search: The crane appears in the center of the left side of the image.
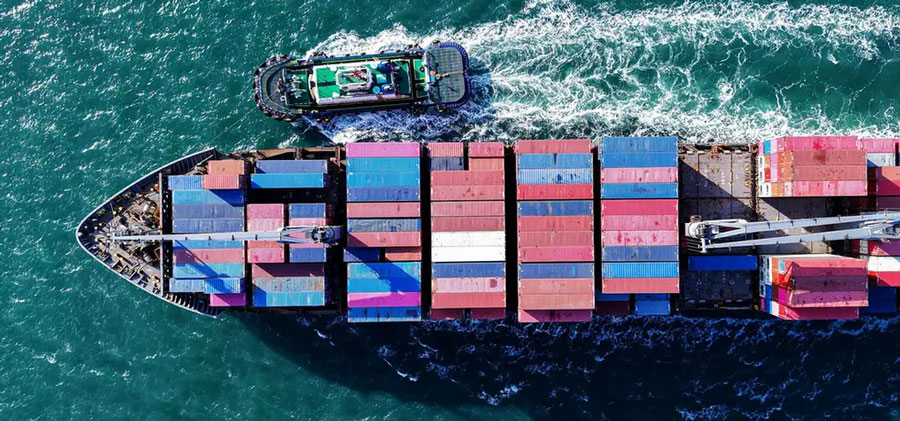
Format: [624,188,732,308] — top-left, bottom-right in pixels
[106,224,348,251]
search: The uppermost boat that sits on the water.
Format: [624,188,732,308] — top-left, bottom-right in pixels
[251,43,471,120]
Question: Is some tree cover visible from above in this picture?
No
